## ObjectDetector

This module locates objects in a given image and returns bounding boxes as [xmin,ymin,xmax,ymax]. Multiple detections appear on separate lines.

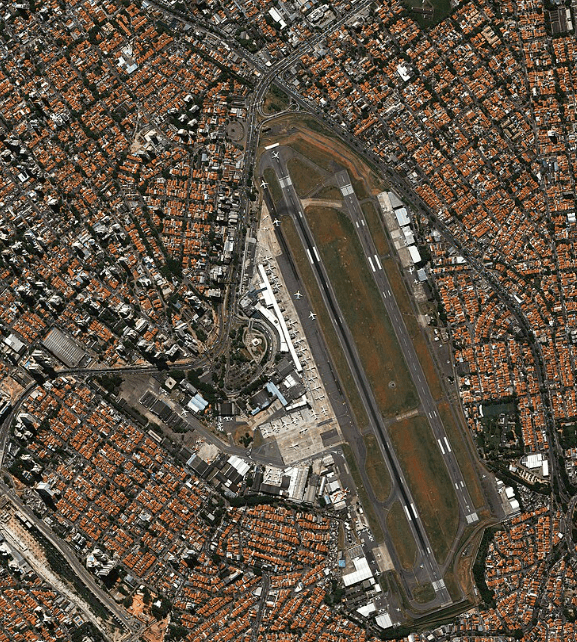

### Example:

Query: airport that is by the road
[163,112,520,634]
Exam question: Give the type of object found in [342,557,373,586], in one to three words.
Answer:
hangar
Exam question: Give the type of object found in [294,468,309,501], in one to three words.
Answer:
hangar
